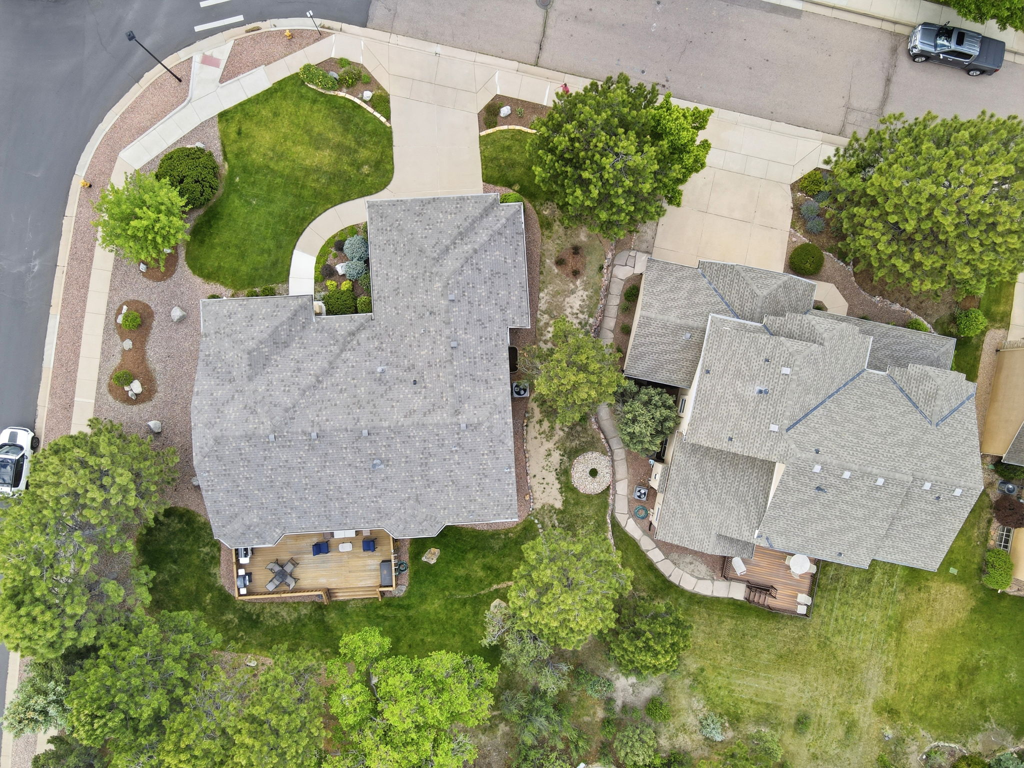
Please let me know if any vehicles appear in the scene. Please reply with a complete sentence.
Yes, you can see a vehicle in this photo.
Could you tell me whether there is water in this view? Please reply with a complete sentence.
No, the scene doesn't show any water.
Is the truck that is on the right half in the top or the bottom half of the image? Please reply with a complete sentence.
Seen from above, the truck that is on the right half lies in the top half of the view.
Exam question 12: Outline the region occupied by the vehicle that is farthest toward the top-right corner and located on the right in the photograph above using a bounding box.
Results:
[900,20,1002,80]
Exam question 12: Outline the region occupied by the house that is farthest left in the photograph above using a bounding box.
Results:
[190,191,532,551]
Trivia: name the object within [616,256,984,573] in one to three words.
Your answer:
house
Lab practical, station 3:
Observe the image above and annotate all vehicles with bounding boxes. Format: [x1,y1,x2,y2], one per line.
[900,20,1002,80]
[0,425,41,498]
